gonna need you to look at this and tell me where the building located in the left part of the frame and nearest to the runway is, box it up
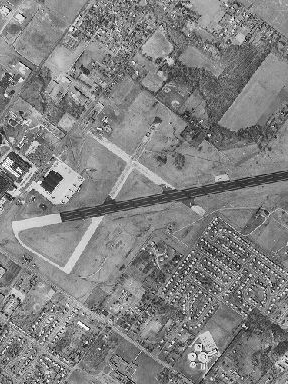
[39,170,63,194]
